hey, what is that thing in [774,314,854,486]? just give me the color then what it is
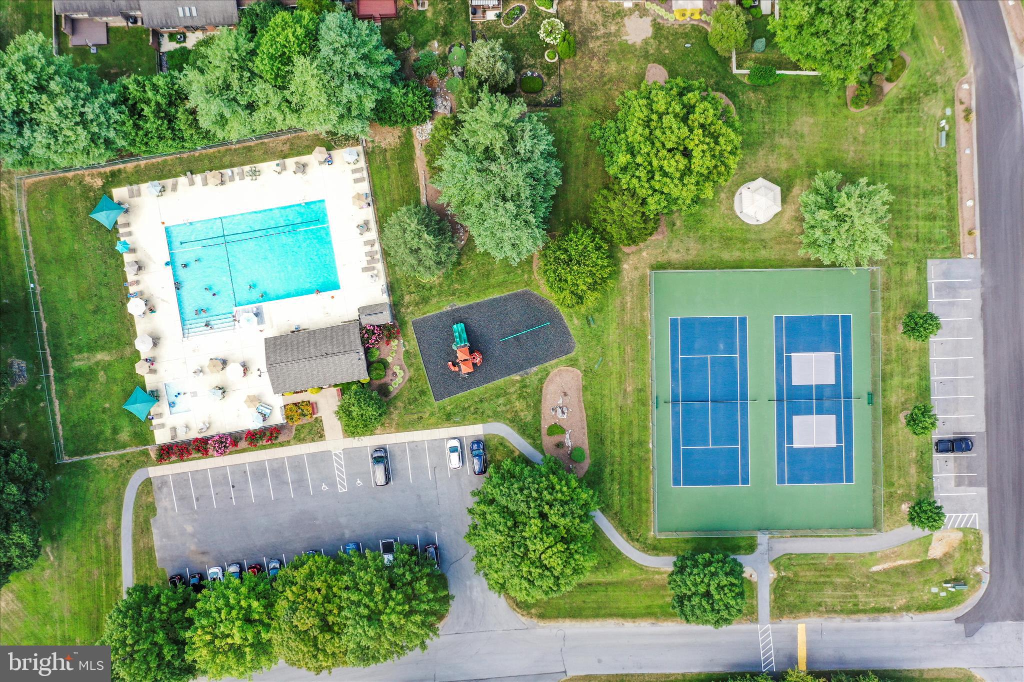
blue tennis court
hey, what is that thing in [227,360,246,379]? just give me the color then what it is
white umbrella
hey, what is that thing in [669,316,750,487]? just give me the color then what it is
blue tennis court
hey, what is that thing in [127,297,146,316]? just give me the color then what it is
white umbrella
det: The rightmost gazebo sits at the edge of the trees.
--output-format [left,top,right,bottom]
[734,177,781,224]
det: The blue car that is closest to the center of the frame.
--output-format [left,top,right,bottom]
[470,440,487,475]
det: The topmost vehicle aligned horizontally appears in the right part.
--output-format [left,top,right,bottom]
[932,438,973,454]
